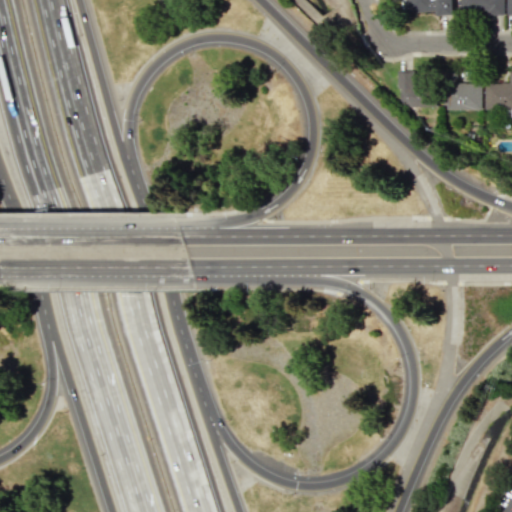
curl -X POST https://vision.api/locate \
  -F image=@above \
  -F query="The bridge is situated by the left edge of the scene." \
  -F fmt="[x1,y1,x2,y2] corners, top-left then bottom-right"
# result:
[0,212,191,291]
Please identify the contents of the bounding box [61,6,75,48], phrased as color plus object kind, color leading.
white vehicle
